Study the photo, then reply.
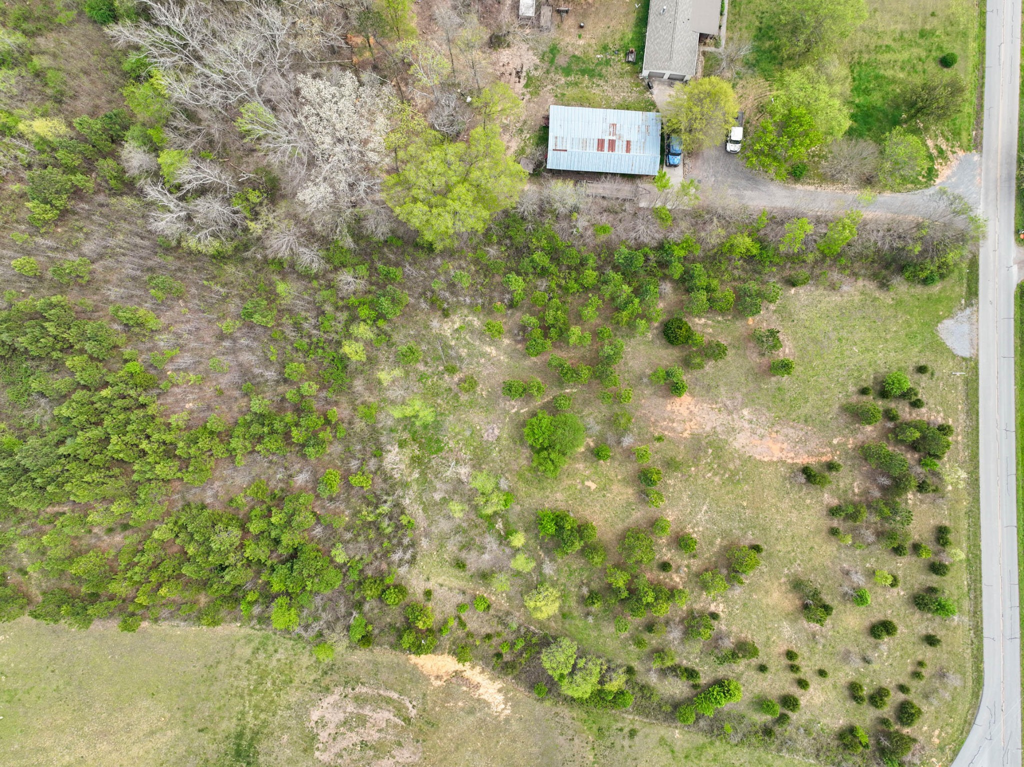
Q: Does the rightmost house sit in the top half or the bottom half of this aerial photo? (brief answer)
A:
top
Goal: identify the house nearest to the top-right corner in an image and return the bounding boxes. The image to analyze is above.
[643,0,724,79]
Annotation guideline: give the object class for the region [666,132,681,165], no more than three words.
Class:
car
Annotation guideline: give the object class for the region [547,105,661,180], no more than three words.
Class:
shed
